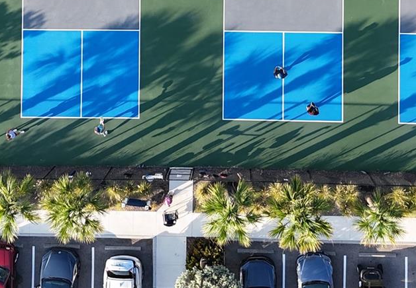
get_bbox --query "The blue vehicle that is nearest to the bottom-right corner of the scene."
[289,251,331,288]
